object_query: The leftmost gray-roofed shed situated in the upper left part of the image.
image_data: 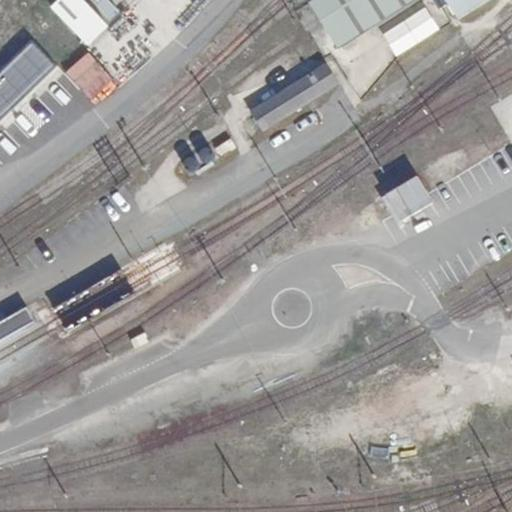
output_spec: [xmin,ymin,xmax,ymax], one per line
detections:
[0,40,55,120]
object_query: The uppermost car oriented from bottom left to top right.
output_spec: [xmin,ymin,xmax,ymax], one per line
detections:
[268,67,290,84]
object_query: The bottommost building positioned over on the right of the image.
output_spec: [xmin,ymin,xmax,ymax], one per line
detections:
[384,174,436,225]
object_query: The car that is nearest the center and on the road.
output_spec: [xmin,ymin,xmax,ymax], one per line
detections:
[270,129,292,146]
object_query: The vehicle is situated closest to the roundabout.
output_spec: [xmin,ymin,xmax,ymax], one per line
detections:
[412,219,433,234]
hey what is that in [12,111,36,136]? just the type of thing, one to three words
vehicle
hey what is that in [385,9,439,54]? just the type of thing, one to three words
building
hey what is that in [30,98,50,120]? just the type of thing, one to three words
car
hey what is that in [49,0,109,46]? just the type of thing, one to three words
shed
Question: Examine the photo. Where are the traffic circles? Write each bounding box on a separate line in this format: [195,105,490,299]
[232,244,390,346]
